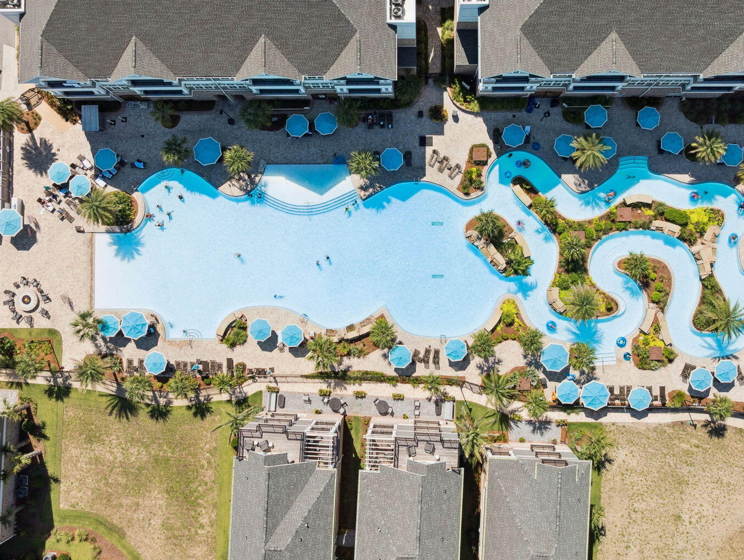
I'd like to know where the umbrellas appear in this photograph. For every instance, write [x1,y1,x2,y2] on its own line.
[444,338,467,362]
[0,208,25,238]
[120,310,149,340]
[249,317,274,341]
[628,386,651,409]
[68,175,91,197]
[502,124,525,147]
[48,162,71,184]
[584,106,607,129]
[660,132,684,155]
[580,380,610,409]
[556,380,579,403]
[713,359,736,382]
[314,112,337,135]
[636,108,658,130]
[280,325,304,348]
[689,366,712,389]
[596,138,618,161]
[286,113,310,138]
[541,343,569,372]
[719,143,743,167]
[95,149,116,171]
[379,149,402,171]
[388,344,412,369]
[100,314,120,337]
[143,351,167,374]
[192,136,222,166]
